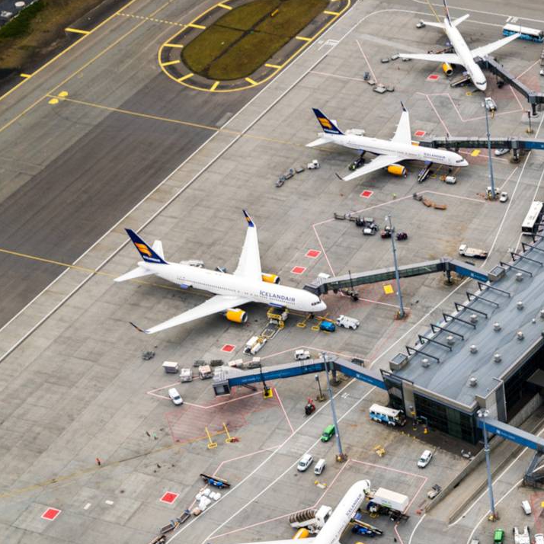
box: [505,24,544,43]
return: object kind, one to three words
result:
vehicle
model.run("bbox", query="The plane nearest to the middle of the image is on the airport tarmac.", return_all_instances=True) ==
[118,217,319,336]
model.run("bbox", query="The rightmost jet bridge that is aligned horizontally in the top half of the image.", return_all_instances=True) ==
[419,137,544,167]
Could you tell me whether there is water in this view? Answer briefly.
No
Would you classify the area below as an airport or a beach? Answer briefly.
airport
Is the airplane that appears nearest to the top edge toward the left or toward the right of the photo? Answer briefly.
right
